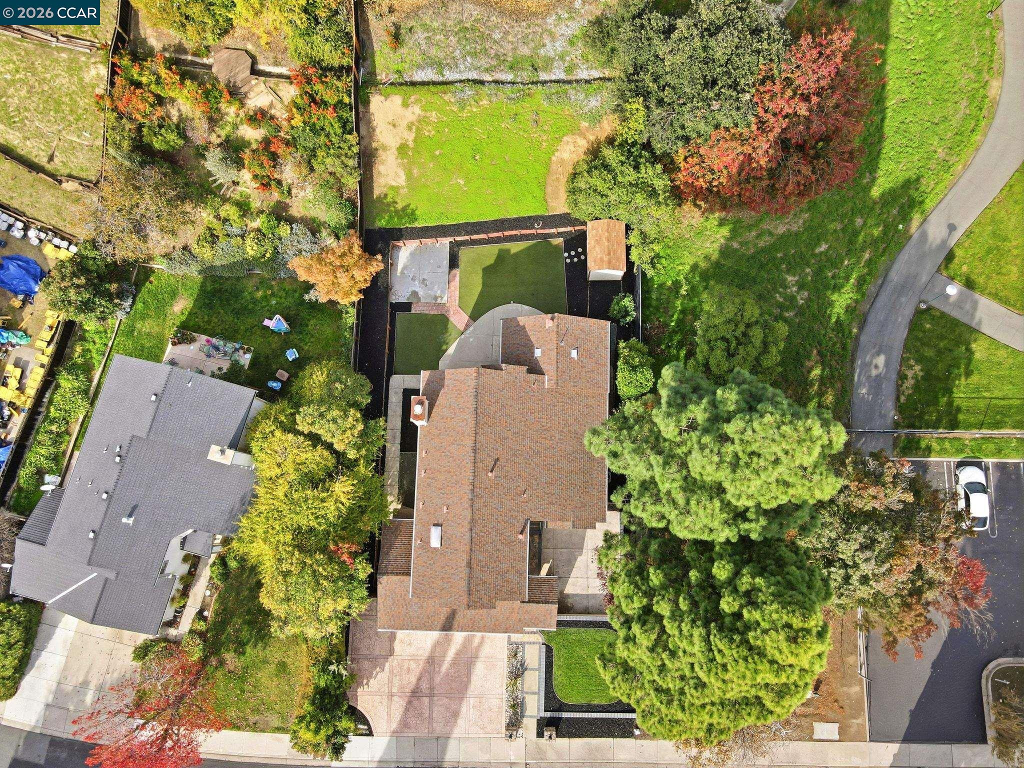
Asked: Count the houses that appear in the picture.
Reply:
2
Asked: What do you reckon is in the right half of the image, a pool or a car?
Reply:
car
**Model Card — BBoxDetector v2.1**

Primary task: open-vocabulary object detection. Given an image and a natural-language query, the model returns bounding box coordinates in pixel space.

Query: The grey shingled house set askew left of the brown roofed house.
[11,355,269,635]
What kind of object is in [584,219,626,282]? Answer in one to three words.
shed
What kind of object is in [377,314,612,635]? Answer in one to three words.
house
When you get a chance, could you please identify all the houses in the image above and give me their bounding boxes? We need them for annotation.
[11,355,269,635]
[377,314,612,635]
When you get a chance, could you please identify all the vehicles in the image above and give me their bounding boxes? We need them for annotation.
[954,466,994,534]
